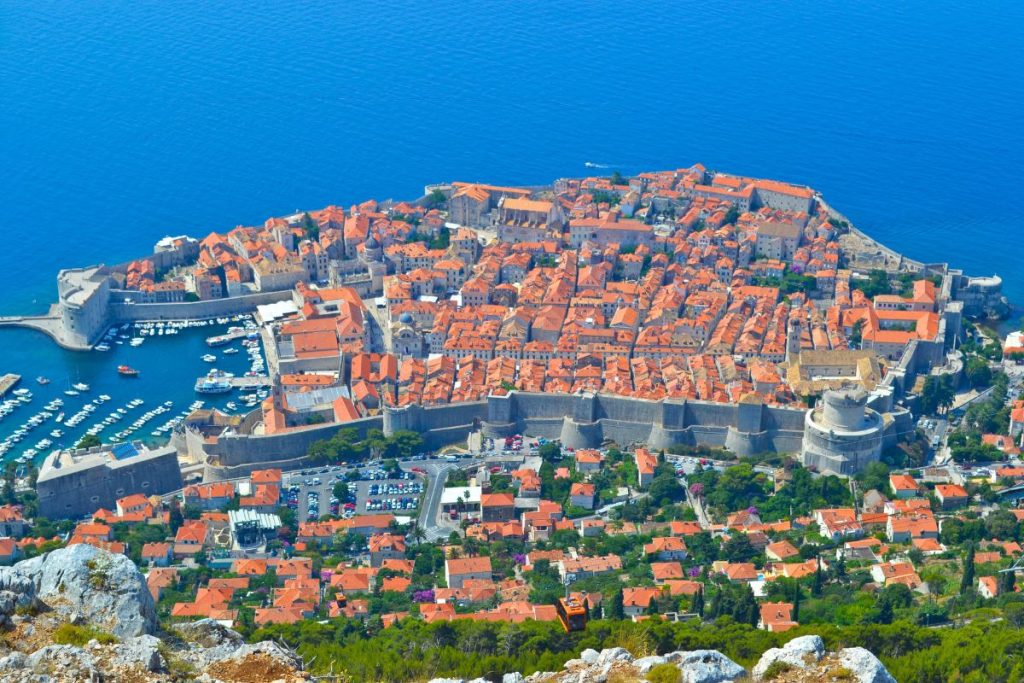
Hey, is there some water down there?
Yes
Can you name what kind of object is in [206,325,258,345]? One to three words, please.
pier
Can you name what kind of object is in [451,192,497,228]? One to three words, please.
building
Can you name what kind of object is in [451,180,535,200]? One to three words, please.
building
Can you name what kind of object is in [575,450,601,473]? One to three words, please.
house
